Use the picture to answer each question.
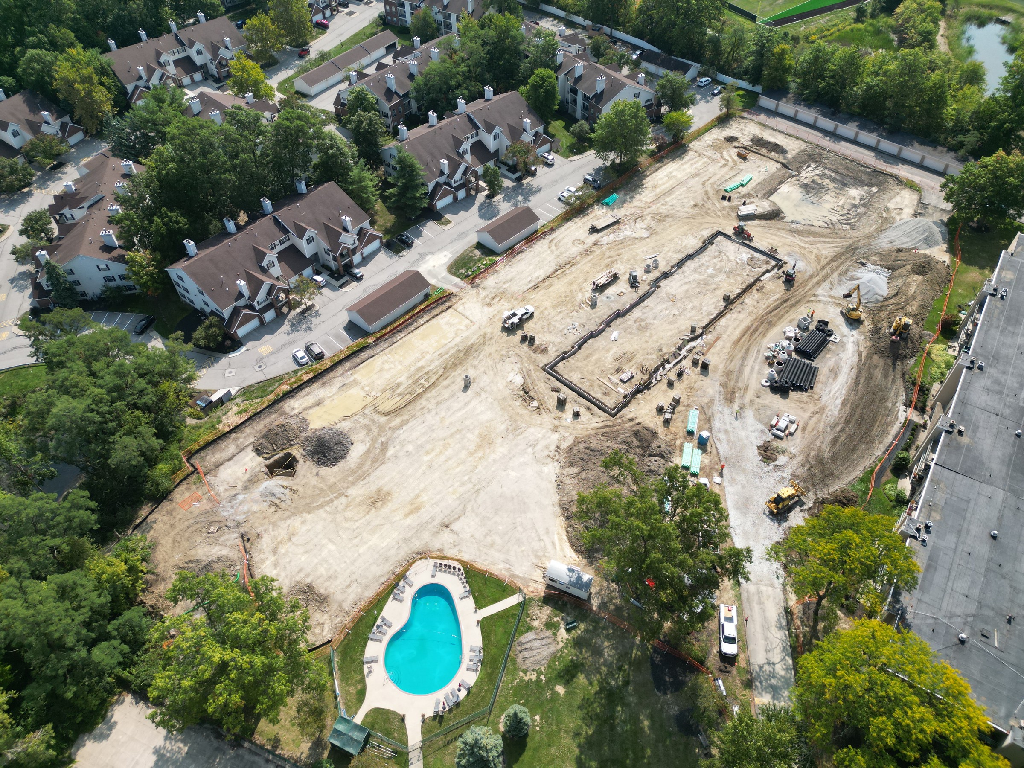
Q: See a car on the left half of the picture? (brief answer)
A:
Yes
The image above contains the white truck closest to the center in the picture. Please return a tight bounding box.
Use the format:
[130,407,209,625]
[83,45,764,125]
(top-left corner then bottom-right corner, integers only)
[502,306,534,328]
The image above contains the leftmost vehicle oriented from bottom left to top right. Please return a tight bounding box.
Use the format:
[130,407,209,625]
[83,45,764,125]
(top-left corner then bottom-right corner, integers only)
[132,314,158,334]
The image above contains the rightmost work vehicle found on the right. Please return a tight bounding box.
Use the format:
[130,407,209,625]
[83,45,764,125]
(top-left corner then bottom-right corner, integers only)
[893,316,915,343]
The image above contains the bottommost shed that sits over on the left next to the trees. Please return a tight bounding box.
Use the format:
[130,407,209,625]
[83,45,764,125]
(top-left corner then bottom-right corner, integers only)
[328,716,370,757]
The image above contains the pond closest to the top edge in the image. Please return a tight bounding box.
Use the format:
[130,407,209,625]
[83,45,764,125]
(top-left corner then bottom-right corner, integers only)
[964,23,1012,88]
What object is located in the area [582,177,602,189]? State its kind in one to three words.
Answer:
vehicle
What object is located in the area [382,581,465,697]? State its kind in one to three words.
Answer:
swimming pool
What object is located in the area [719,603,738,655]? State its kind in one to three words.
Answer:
vehicle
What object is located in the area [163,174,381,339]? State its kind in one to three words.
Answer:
house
